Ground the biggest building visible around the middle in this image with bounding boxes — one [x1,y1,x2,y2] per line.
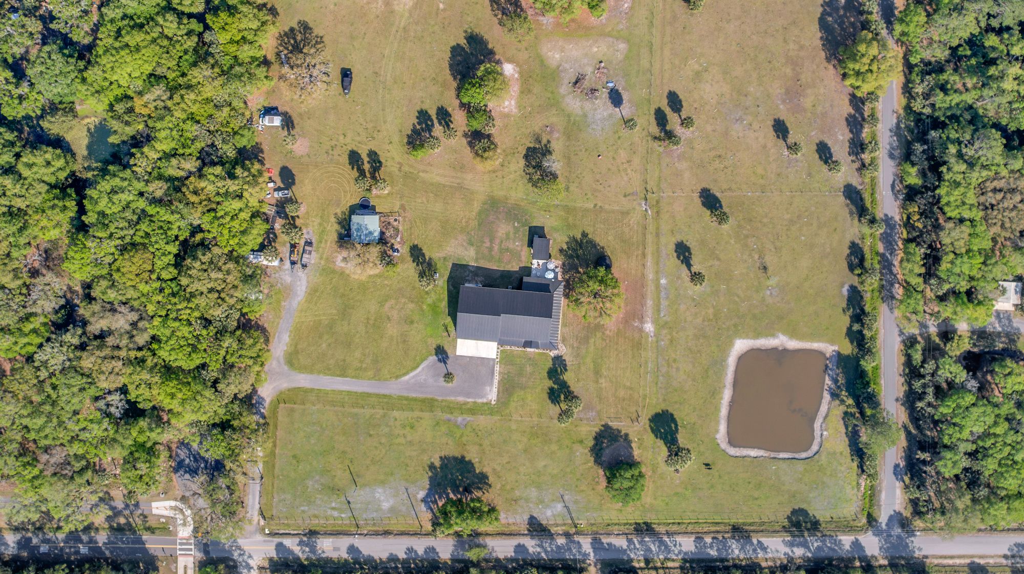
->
[456,277,564,351]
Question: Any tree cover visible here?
Yes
